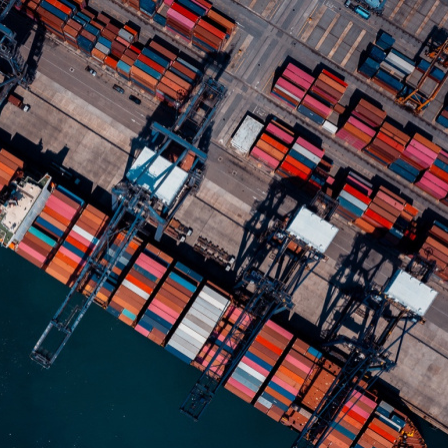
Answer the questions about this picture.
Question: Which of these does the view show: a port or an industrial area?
port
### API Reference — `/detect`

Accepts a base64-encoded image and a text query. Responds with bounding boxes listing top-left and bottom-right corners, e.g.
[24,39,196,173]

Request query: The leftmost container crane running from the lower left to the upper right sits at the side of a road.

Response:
[28,77,228,370]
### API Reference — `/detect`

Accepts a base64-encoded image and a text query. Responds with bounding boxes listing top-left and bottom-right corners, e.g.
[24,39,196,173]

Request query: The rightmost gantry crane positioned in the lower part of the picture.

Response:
[284,250,443,448]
